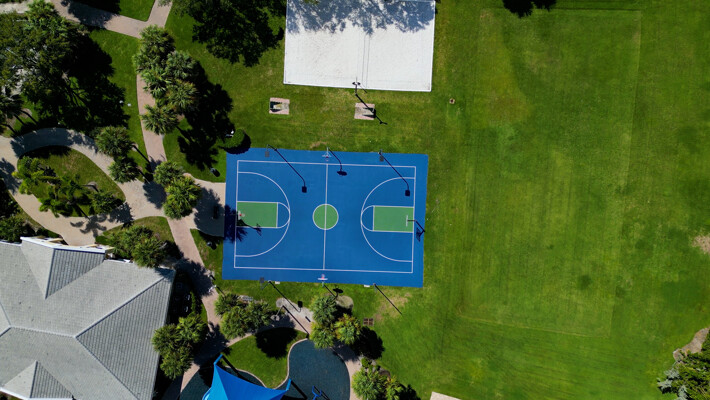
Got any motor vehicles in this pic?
No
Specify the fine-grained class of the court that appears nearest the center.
basketball court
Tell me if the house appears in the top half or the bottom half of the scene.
bottom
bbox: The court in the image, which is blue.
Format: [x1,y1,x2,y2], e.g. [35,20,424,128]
[222,148,428,288]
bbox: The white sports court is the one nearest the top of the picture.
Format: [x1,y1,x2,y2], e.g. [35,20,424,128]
[284,0,435,92]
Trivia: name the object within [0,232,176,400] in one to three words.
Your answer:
house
